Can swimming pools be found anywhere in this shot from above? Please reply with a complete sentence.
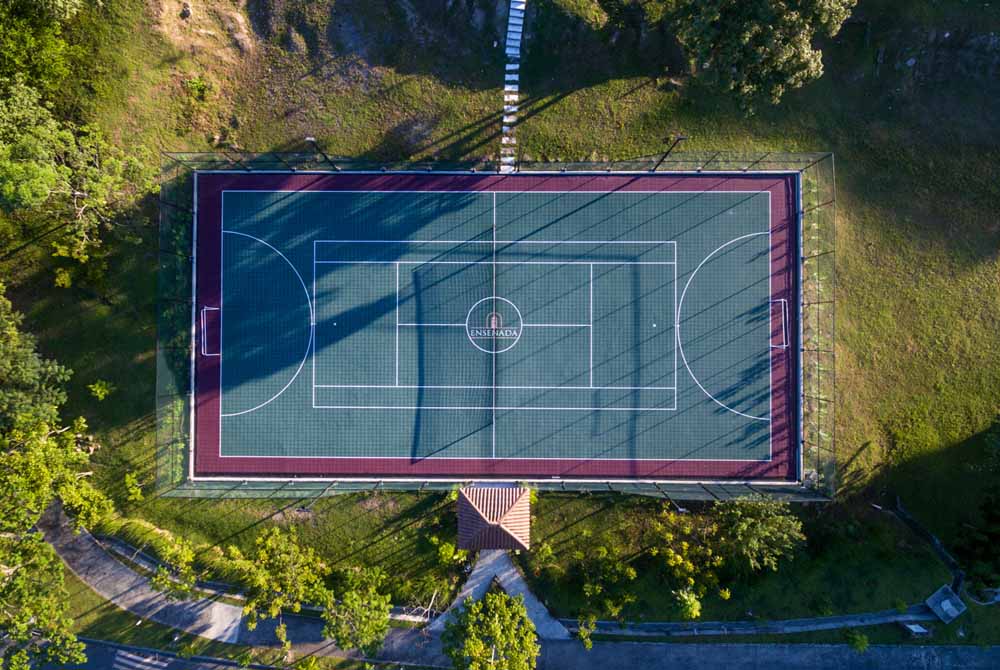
No, there isn't any swimming pool down there.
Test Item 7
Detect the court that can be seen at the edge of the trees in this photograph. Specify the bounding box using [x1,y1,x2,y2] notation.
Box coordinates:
[188,169,805,483]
